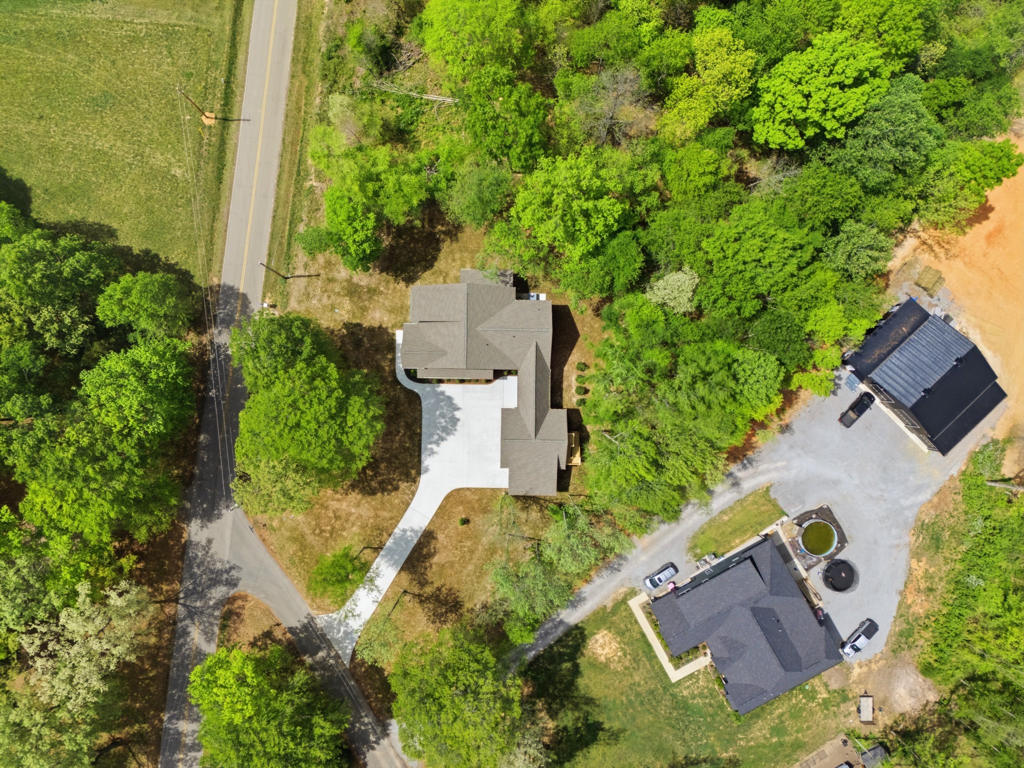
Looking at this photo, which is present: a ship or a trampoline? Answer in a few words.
trampoline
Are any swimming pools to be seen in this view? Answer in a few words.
Yes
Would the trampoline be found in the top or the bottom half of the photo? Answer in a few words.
bottom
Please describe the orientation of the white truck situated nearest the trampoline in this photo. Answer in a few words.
diagonally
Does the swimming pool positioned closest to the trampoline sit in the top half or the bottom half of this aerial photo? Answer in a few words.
bottom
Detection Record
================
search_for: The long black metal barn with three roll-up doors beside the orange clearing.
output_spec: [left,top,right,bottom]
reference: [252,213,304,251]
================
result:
[844,297,1007,456]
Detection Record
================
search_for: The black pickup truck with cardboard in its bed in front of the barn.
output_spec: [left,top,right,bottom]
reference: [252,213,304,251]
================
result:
[837,388,880,433]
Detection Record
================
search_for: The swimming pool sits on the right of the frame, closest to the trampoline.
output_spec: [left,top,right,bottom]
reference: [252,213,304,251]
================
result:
[799,518,841,558]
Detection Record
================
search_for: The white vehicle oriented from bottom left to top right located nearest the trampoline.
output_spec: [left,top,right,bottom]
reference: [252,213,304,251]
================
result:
[841,614,883,661]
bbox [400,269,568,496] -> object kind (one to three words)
house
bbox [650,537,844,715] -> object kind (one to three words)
house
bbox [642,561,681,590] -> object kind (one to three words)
car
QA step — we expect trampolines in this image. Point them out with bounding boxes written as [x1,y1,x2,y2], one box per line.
[822,559,865,597]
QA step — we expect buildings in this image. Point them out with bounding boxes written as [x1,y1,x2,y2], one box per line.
[400,269,568,496]
[650,537,844,715]
[844,297,1007,456]
[853,737,888,768]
